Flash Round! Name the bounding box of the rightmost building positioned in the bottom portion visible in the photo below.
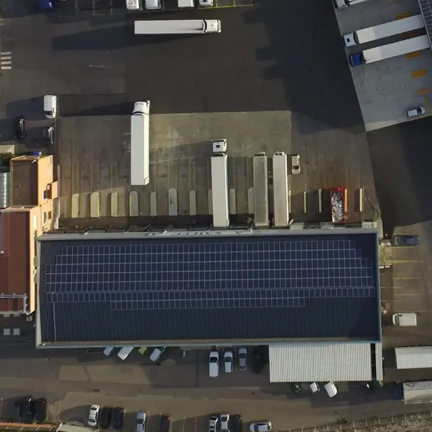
[36,212,381,348]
